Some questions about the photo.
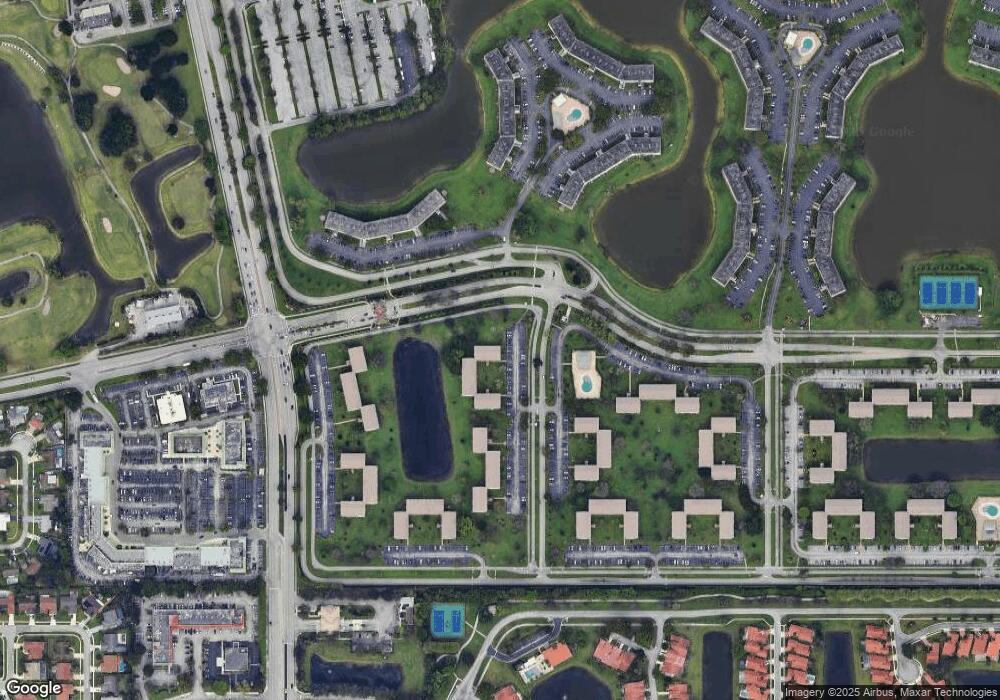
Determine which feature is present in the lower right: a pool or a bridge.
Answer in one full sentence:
The one visible in the lower right is a pool.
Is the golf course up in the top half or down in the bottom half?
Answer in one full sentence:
Seen from above, the golf course lies in the top half of the view.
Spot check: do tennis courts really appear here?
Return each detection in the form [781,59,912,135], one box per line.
[920,275,935,309]
[948,275,963,309]
[431,603,450,638]
[450,603,466,638]
[935,275,948,309]
[963,275,978,309]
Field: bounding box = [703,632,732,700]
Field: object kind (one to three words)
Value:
pond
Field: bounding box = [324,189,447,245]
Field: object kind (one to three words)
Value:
building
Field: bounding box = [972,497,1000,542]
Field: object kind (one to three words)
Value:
swimming pool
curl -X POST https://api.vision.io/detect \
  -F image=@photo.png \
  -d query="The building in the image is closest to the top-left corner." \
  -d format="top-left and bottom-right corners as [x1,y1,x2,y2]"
[80,4,112,29]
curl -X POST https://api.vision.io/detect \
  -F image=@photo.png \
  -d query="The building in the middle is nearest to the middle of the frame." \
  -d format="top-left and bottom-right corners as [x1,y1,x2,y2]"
[462,346,501,409]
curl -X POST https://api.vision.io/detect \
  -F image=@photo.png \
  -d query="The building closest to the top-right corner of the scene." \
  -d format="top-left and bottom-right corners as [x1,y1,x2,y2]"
[970,42,1000,70]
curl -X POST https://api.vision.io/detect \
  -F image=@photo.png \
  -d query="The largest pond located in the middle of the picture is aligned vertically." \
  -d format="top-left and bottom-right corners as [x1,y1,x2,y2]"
[395,339,452,479]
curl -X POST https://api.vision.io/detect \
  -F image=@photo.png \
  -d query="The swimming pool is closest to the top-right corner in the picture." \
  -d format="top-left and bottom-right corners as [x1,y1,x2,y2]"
[784,30,821,69]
